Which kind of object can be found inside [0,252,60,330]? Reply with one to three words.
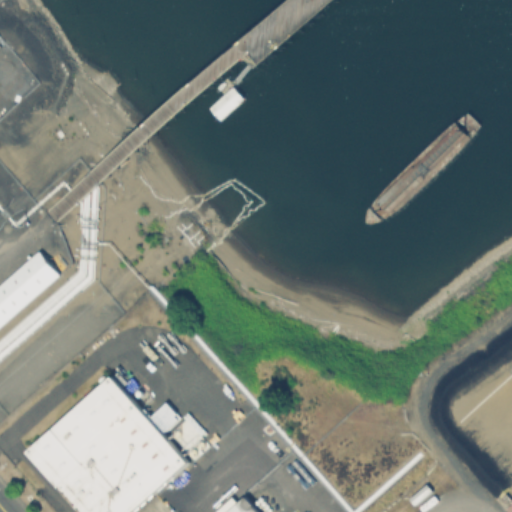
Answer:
building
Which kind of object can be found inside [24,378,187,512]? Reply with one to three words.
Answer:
warehouse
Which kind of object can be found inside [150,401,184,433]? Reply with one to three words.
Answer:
shed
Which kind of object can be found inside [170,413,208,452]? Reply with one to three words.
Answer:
shed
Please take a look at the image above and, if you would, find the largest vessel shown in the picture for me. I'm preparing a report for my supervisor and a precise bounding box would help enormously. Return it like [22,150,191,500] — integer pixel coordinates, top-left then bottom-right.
[366,114,482,224]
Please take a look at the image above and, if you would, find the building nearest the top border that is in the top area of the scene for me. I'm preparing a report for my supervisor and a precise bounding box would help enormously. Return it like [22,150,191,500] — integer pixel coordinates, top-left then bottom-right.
[208,86,246,123]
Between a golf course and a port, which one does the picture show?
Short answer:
port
